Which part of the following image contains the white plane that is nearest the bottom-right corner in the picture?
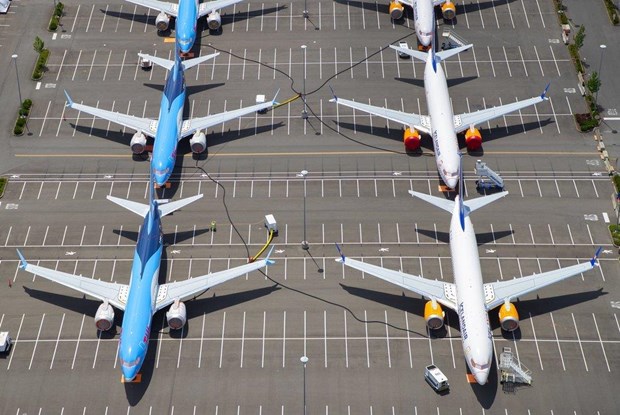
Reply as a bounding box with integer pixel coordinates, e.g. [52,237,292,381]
[334,150,601,385]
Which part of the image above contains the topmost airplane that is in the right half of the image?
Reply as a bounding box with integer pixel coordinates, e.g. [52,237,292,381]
[389,0,455,46]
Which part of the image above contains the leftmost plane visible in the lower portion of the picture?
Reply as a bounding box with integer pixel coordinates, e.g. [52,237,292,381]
[18,154,275,380]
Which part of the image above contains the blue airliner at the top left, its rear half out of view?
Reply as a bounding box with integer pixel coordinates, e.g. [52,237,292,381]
[123,0,245,53]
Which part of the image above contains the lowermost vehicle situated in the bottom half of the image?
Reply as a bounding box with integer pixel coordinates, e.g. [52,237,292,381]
[427,367,452,391]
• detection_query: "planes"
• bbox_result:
[18,154,275,380]
[64,17,280,187]
[334,150,601,385]
[389,0,455,46]
[123,0,245,53]
[328,11,550,186]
